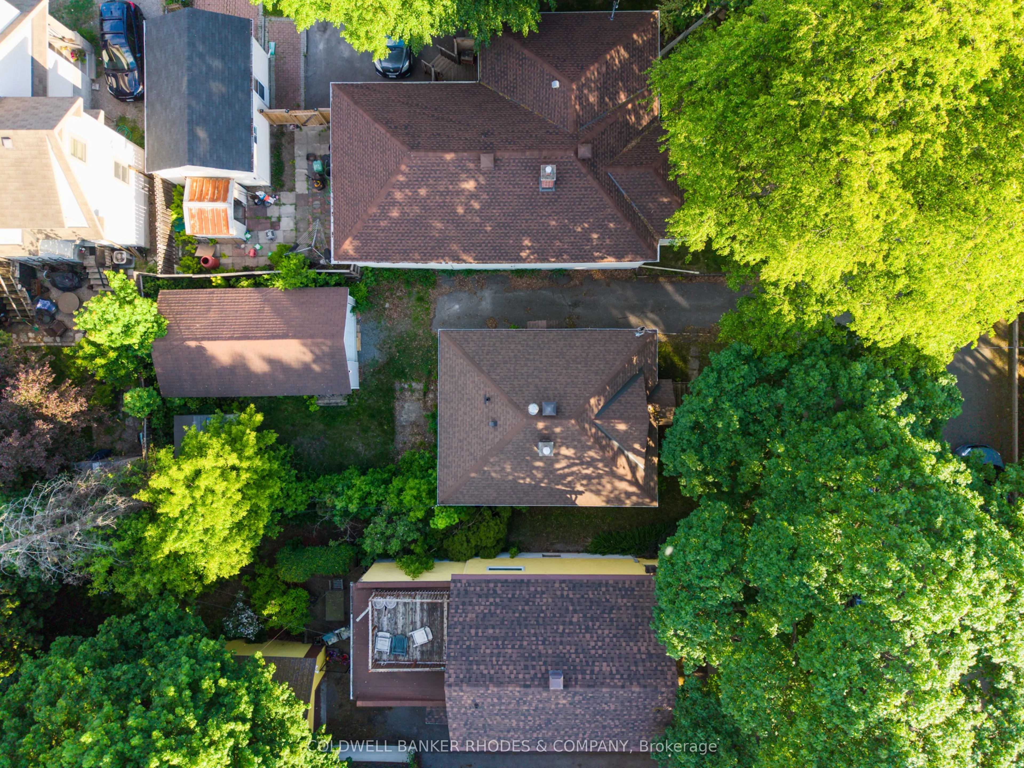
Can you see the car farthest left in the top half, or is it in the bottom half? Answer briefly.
top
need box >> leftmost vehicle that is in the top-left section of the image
[88,4,141,106]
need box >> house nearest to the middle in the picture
[436,327,677,508]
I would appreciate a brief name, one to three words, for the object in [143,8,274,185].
building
